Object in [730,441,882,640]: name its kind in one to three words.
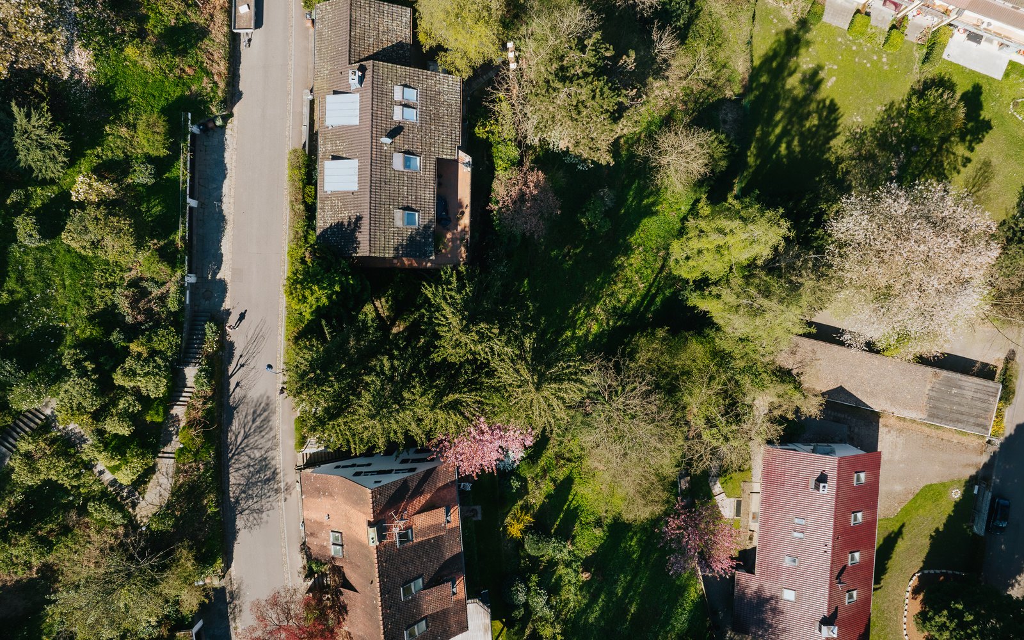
house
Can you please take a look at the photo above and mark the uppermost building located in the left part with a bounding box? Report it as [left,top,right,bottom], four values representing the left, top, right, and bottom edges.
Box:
[313,0,472,268]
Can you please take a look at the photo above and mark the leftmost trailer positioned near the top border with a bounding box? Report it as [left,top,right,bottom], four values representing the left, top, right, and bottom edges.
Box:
[233,0,258,49]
